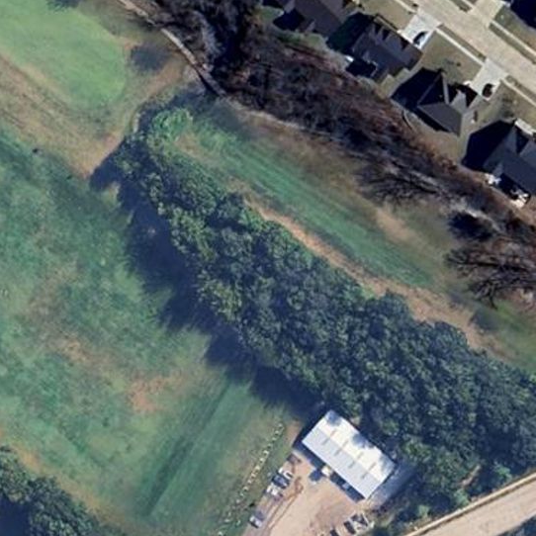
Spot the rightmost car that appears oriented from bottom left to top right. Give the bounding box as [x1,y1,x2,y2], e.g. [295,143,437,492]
[483,82,497,98]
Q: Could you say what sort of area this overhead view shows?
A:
golf course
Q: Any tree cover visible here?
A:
Yes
